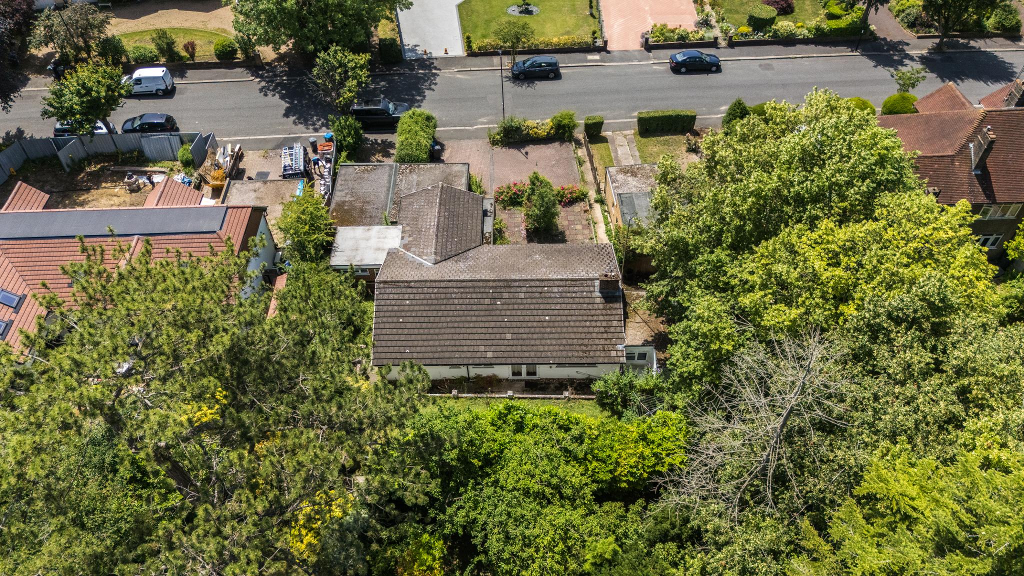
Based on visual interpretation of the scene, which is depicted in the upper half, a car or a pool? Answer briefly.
car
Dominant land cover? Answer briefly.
trees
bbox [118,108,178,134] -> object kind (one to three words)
car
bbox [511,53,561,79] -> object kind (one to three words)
car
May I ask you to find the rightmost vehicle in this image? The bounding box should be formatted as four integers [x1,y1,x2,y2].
[669,48,724,72]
